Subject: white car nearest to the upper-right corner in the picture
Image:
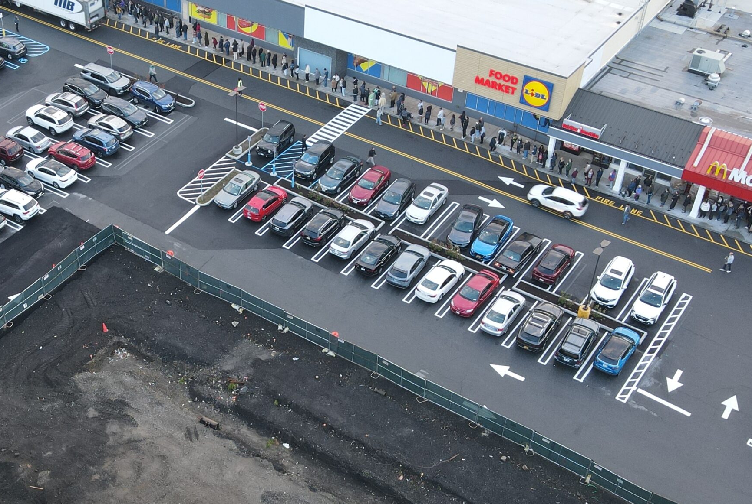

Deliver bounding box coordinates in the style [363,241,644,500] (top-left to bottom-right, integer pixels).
[525,186,591,222]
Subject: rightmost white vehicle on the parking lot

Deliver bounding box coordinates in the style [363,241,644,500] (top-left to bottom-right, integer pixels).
[628,273,677,326]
